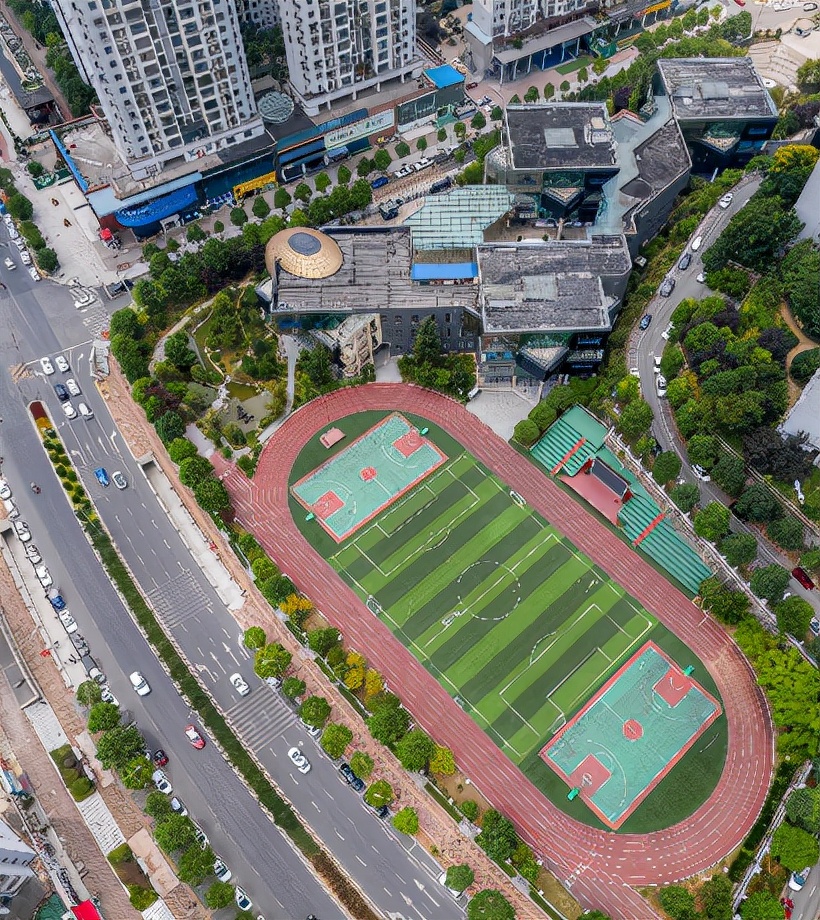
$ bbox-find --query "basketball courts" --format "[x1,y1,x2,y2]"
[290,413,448,543]
[540,641,725,829]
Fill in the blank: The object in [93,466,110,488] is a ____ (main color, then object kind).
blue car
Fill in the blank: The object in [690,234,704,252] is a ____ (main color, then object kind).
white car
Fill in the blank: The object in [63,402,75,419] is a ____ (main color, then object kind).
white vehicle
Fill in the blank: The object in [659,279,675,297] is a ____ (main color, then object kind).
gray car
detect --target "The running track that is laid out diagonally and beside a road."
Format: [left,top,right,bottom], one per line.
[211,378,779,920]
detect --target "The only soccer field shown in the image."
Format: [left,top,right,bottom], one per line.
[327,451,659,762]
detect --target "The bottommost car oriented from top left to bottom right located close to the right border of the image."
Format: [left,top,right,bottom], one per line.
[788,565,816,591]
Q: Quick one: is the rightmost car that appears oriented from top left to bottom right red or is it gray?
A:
red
